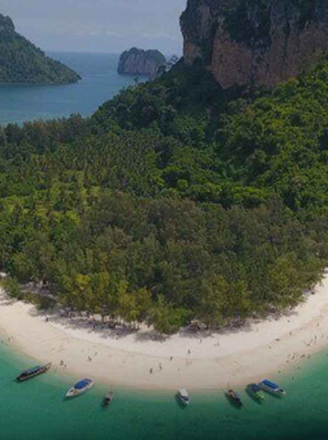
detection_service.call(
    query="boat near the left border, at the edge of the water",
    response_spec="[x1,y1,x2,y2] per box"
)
[8,357,50,384]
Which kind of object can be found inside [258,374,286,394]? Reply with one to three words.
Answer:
boat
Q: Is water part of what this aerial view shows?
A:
Yes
